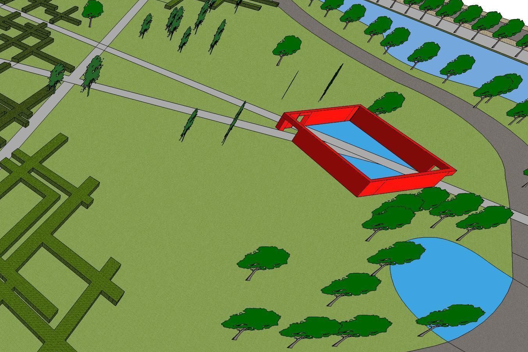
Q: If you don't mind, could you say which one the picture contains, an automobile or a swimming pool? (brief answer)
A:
swimming pool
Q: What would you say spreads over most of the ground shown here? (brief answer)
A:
grass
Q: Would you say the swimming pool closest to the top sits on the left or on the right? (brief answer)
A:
right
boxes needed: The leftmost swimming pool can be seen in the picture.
[284,121,414,178]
